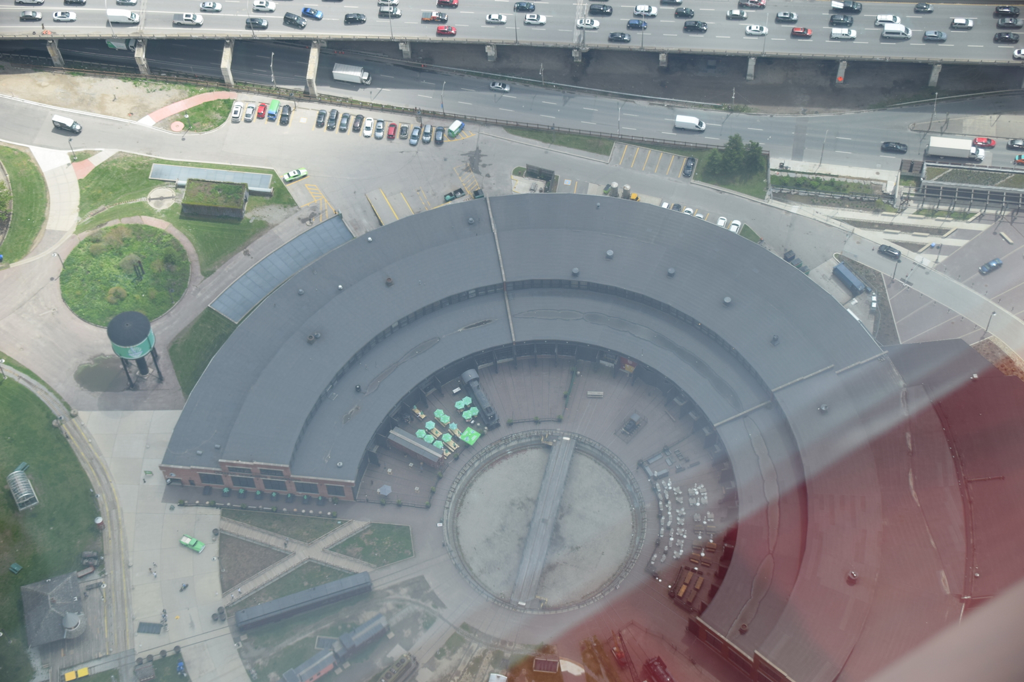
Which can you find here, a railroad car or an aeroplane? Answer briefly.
railroad car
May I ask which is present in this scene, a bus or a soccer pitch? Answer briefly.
bus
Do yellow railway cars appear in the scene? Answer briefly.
Yes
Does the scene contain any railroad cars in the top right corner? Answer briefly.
No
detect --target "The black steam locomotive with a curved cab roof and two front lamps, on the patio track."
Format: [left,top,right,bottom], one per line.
[460,367,502,434]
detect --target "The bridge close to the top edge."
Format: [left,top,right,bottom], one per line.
[0,0,1024,98]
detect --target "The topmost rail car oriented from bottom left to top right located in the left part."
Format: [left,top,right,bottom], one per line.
[341,607,399,656]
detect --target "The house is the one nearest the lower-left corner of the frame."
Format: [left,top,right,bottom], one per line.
[21,571,87,649]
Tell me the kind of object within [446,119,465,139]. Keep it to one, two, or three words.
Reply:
vehicle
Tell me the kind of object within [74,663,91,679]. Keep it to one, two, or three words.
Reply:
rail car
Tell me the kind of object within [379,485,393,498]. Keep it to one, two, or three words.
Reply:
umbrella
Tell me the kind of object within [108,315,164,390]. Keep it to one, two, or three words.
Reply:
water tower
